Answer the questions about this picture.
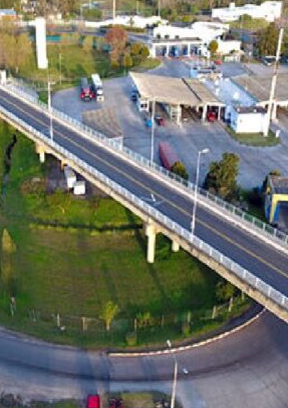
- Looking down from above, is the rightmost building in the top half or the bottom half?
top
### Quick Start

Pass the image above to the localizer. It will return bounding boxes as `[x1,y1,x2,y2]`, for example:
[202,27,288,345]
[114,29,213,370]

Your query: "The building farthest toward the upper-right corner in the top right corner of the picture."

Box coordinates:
[263,0,286,23]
